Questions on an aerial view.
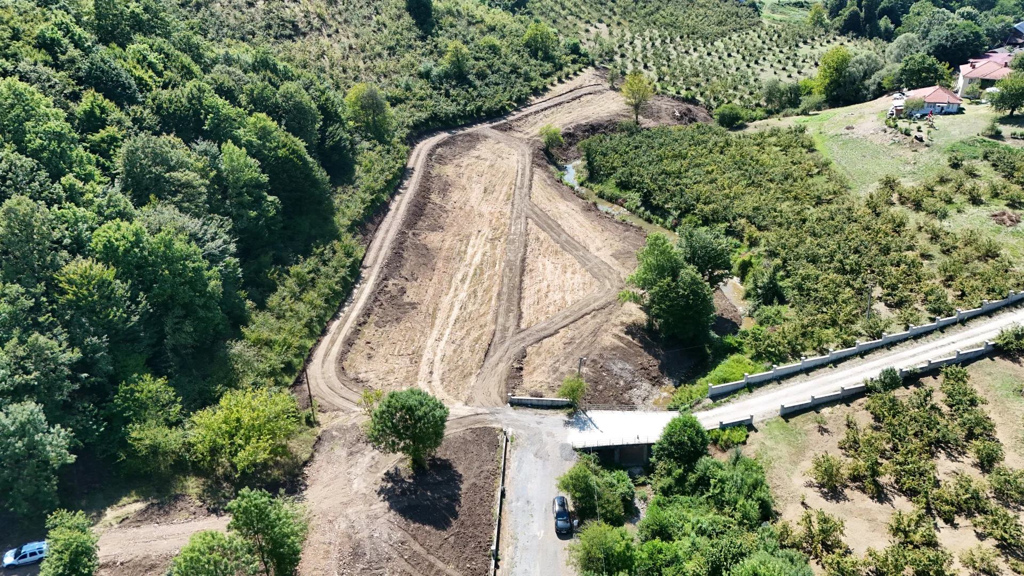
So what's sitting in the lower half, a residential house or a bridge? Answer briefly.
bridge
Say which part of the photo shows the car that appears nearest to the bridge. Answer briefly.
bottom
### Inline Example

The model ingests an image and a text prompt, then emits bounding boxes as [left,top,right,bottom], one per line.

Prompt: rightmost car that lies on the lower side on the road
[549,495,574,537]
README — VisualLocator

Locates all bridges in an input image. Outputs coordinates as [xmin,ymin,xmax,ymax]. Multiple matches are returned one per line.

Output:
[567,403,685,459]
